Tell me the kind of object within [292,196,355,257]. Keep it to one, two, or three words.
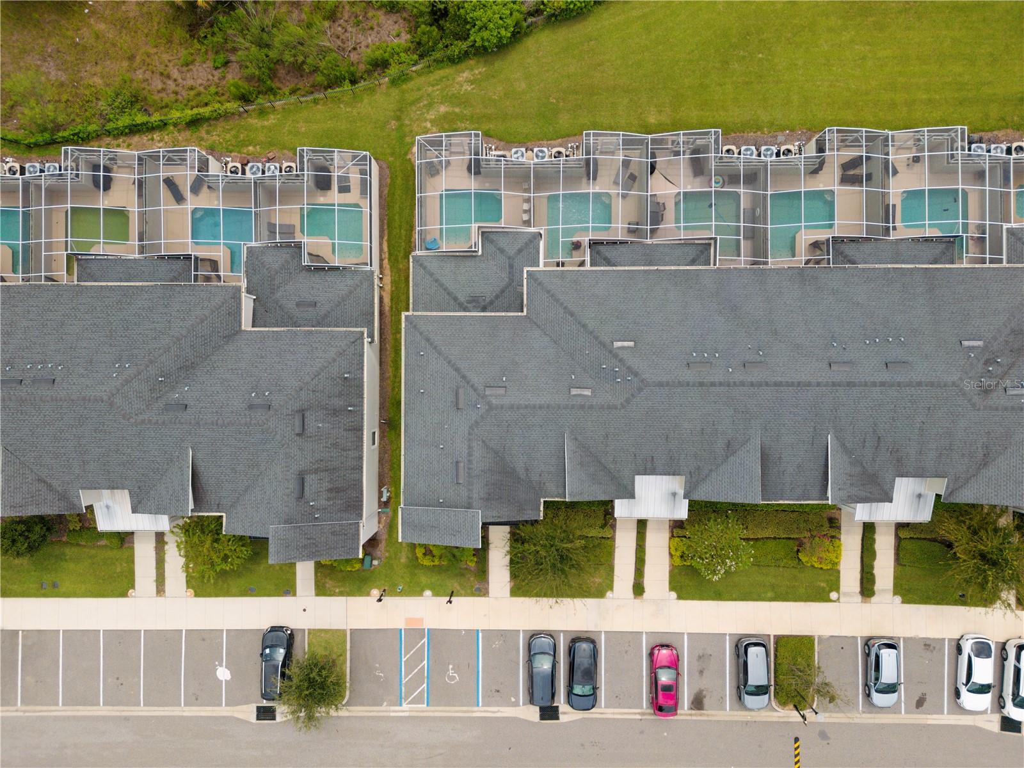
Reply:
swimming pool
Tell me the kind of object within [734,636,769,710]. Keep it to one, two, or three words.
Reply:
car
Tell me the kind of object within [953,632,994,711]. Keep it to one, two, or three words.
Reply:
car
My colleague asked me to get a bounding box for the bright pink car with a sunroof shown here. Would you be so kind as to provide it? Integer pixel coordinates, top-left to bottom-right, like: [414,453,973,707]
[649,642,682,719]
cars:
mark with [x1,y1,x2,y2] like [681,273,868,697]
[526,631,559,708]
[734,636,769,710]
[257,625,295,703]
[649,642,682,719]
[995,637,1024,721]
[953,632,994,711]
[863,636,900,707]
[567,635,600,710]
